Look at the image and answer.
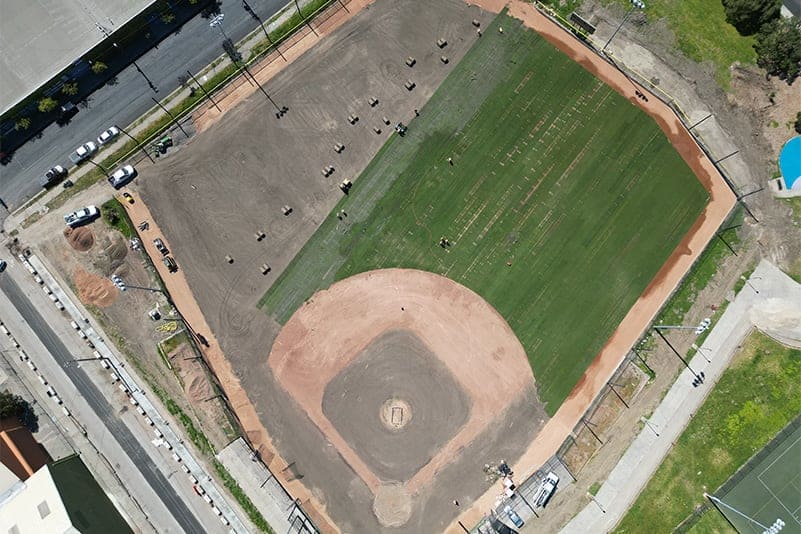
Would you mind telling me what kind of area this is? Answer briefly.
sports ground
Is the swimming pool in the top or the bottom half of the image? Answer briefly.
top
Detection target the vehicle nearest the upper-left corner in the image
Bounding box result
[56,99,79,115]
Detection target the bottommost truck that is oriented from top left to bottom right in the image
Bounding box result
[505,505,526,531]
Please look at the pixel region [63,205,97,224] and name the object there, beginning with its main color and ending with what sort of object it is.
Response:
white vehicle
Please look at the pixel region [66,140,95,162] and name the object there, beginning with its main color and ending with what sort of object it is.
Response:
gray truck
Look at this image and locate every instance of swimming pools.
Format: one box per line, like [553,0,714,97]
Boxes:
[768,135,801,202]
